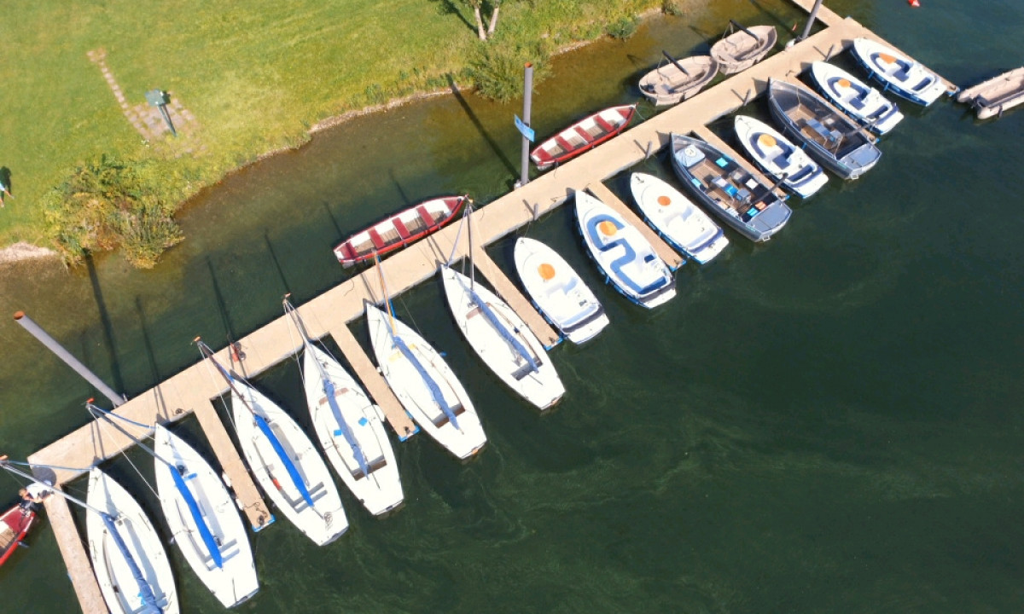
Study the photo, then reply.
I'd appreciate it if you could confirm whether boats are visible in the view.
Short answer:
Yes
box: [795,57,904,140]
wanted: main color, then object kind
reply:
white boat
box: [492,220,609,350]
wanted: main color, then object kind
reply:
white boat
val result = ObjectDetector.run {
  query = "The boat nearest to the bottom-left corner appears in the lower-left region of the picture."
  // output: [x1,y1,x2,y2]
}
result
[0,498,46,575]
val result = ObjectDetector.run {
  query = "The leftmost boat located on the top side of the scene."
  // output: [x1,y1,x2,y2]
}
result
[333,194,479,271]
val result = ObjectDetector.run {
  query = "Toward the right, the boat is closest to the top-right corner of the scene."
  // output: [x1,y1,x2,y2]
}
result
[948,65,1024,122]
